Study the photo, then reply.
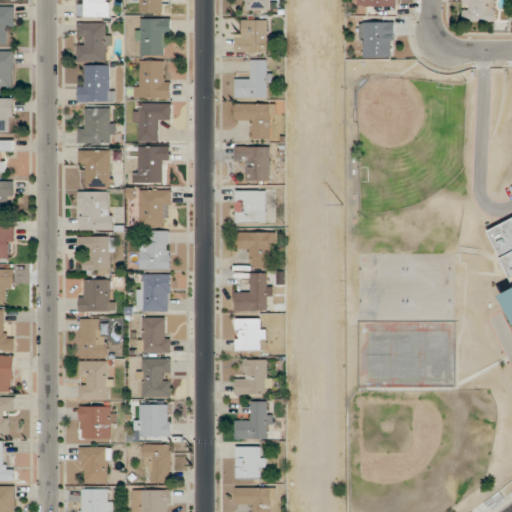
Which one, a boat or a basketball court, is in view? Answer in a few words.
basketball court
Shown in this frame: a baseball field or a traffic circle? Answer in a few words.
baseball field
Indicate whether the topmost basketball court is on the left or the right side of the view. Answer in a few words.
right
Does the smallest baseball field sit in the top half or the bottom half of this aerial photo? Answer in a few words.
bottom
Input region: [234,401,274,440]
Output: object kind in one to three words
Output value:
house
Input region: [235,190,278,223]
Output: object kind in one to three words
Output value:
house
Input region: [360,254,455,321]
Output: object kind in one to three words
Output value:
basketball court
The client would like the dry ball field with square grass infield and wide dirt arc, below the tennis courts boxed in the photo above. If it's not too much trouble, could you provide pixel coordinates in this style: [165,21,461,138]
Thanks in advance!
[362,398,442,483]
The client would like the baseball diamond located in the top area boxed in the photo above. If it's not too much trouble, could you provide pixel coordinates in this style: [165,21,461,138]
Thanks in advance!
[358,76,466,212]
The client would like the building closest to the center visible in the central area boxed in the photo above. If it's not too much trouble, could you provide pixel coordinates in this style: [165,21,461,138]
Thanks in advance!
[237,232,278,272]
